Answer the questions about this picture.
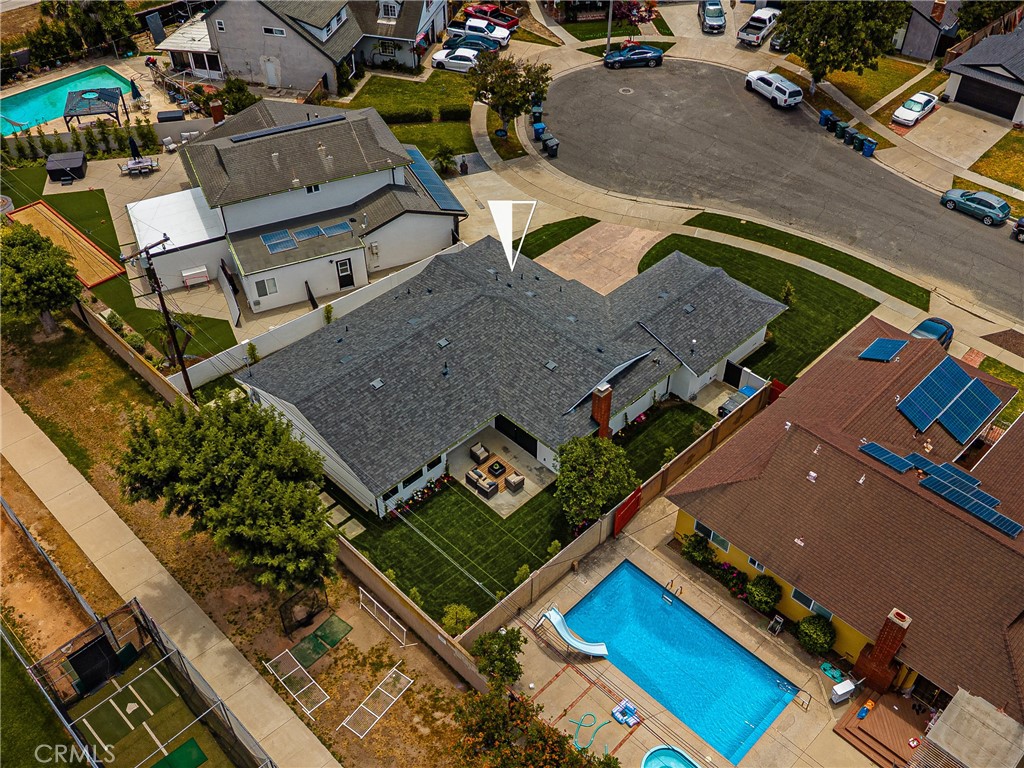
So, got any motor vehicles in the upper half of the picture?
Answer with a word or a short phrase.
Yes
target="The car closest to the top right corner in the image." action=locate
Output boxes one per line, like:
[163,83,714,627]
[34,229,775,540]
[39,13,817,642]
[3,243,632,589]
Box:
[897,91,940,121]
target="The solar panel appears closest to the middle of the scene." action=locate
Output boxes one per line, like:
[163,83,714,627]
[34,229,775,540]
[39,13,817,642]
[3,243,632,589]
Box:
[404,147,464,211]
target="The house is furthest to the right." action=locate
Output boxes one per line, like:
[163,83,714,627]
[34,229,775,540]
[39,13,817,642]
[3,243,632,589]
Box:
[940,21,1024,123]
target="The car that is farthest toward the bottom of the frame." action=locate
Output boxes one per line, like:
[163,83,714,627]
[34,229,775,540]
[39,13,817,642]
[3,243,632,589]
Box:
[913,318,968,353]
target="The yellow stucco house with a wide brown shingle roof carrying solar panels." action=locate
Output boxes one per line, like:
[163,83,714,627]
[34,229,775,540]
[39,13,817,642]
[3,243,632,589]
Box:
[660,317,1024,757]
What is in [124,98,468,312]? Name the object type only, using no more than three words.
house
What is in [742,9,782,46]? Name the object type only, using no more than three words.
truck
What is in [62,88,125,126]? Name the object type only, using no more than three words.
gazebo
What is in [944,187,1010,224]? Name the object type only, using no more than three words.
car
